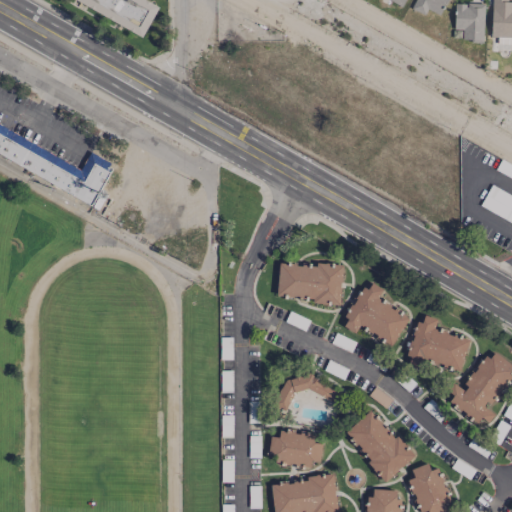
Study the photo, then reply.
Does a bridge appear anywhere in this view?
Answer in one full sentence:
No, the photo shows no bridge.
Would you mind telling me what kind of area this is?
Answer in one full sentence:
The area seen from above is a sports ground.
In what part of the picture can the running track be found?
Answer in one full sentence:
The running track is in the bottom left part of the image.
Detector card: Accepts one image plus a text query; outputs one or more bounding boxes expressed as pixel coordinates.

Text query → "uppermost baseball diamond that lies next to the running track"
[8,210,57,294]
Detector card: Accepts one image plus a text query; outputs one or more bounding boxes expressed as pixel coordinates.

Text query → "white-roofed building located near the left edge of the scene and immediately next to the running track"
[0,124,112,205]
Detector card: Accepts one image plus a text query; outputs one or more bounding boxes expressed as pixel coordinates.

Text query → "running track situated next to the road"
[25,247,183,512]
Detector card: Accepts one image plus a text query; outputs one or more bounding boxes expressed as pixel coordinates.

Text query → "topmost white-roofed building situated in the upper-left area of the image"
[79,0,160,38]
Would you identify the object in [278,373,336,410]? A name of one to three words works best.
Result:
building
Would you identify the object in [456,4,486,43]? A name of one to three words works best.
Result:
house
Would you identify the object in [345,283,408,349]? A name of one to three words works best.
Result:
building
